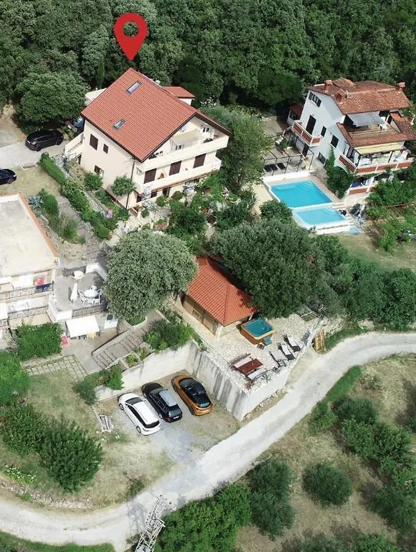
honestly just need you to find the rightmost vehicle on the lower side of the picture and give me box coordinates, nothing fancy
[172,368,217,412]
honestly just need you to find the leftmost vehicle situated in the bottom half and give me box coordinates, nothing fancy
[120,386,163,435]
